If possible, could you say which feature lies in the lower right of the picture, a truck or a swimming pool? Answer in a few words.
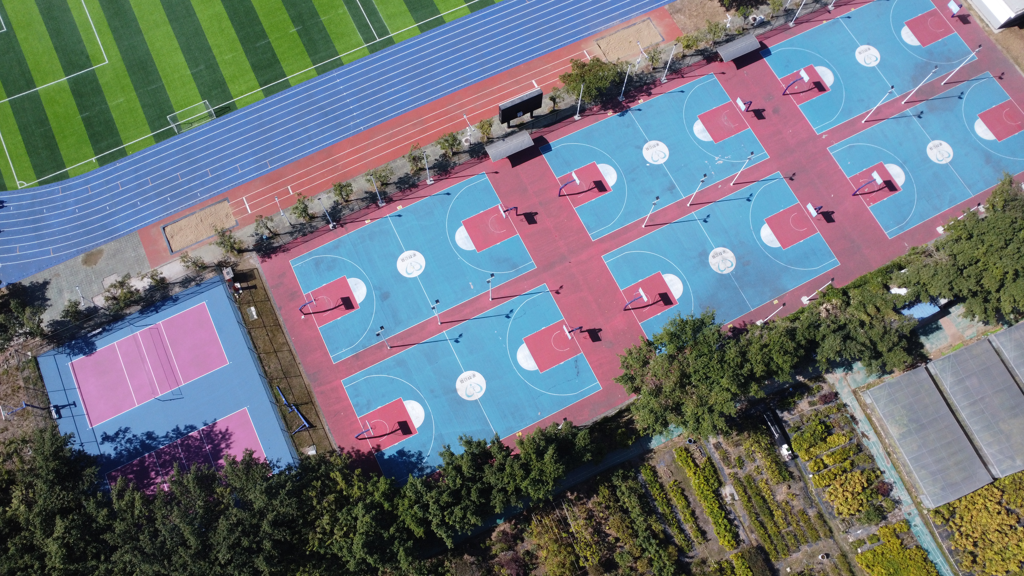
truck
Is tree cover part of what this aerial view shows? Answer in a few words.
Yes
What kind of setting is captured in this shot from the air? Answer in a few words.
sports ground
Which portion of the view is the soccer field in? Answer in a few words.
top left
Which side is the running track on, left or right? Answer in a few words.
left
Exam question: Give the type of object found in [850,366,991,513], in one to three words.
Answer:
house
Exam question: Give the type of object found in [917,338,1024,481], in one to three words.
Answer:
house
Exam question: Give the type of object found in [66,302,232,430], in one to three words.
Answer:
sports court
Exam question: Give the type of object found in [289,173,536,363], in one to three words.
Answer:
basketball court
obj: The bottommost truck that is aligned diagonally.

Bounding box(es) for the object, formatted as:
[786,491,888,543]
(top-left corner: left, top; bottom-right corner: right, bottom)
[759,409,796,461]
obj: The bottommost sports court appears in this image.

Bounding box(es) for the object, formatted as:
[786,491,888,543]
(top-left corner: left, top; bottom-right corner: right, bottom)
[110,405,270,538]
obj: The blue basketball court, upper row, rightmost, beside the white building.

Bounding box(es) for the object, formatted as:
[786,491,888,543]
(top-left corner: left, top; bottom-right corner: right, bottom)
[761,0,976,134]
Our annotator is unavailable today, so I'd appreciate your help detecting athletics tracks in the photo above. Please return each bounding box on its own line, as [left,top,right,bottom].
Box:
[0,0,675,267]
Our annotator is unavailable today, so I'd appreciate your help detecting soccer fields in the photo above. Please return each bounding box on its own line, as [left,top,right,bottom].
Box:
[0,0,502,191]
